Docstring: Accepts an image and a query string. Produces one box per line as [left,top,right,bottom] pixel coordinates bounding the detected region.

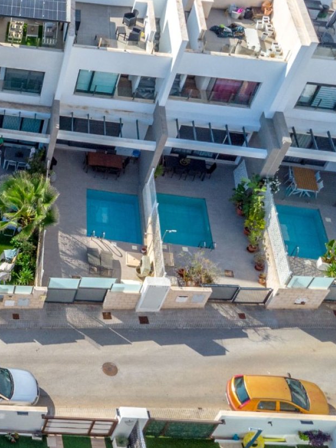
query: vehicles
[0,368,40,407]
[223,371,332,412]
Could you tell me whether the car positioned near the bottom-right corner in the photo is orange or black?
orange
